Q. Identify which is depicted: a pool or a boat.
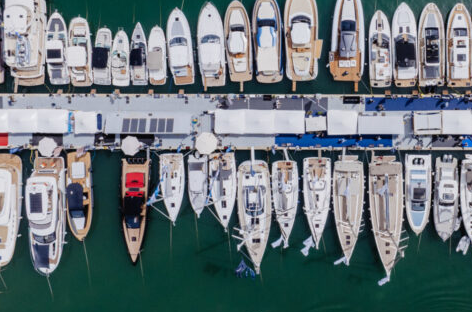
boat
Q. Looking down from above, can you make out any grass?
No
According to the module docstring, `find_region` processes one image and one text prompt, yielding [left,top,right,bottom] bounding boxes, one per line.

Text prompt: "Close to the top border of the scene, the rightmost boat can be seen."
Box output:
[441,0,472,99]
